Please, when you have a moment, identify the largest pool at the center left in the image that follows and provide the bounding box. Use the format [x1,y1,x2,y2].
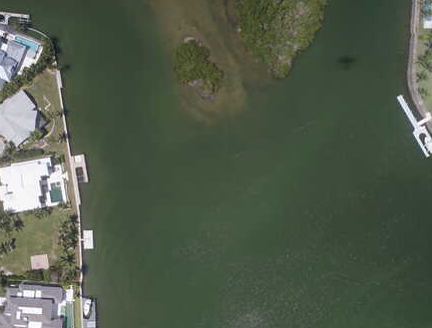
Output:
[50,188,64,203]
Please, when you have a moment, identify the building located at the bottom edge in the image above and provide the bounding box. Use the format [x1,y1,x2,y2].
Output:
[0,283,65,328]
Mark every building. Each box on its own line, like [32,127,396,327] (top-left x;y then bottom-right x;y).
[0,283,65,328]
[0,158,54,213]
[0,89,47,154]
[0,30,33,85]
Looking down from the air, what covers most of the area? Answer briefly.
water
